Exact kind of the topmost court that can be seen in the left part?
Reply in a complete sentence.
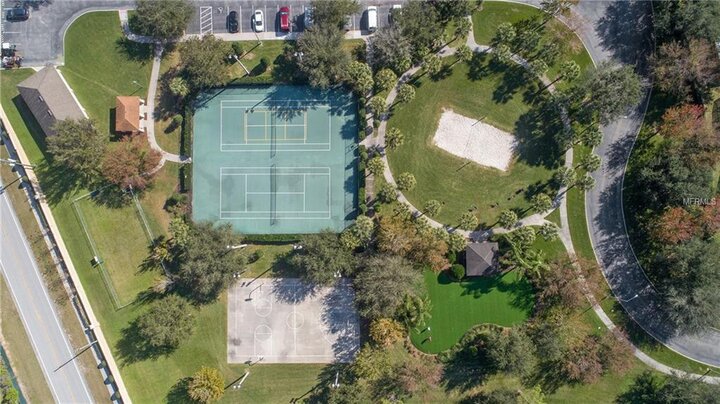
The topmost court that can be seen in the left part appears to be a tennis court.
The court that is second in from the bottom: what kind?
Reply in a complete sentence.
Specifically, the court that is second in from the bottom is a tennis court.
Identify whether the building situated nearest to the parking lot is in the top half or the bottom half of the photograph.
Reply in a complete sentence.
The building situated nearest to the parking lot sits in the top half of the picture.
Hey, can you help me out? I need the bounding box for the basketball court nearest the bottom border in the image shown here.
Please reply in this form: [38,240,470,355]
[228,278,361,363]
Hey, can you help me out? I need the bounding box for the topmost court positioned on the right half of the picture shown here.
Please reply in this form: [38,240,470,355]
[434,109,518,171]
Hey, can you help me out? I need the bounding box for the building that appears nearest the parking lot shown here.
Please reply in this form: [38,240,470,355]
[17,66,86,145]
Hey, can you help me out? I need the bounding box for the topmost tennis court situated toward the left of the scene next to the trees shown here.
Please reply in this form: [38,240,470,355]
[211,92,339,159]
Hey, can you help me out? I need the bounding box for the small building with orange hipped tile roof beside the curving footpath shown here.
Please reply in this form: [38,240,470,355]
[116,96,150,132]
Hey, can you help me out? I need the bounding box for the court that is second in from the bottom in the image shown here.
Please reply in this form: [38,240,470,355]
[211,159,339,226]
